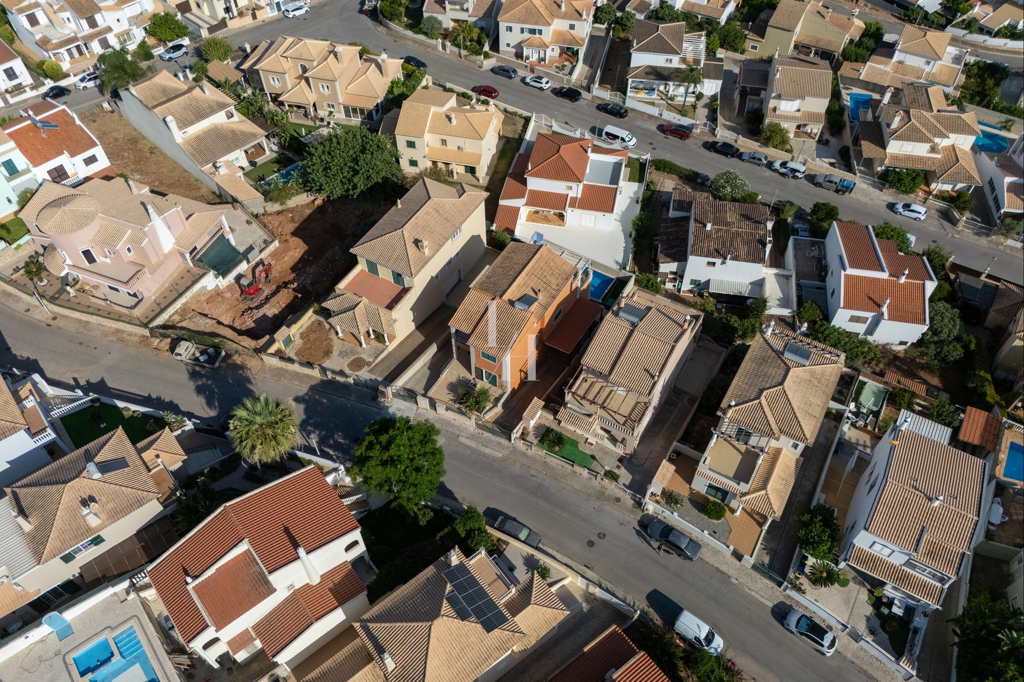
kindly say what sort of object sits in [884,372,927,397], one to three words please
shed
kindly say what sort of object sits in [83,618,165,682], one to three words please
swimming pool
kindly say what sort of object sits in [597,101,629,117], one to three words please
car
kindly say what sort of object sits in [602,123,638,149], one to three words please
vehicle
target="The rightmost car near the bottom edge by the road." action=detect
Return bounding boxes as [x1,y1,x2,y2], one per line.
[783,608,843,658]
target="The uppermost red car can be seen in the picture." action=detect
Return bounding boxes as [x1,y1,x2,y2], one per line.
[476,84,503,98]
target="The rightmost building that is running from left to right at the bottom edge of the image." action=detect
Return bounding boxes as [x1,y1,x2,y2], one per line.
[545,623,670,682]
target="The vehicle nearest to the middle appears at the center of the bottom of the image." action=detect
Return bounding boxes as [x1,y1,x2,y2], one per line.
[494,507,551,550]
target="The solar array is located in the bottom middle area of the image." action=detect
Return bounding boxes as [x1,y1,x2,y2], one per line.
[442,563,514,634]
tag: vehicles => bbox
[238,273,273,310]
[645,517,704,561]
[210,417,234,440]
[783,608,843,658]
[40,83,72,98]
[662,122,695,140]
[597,101,629,117]
[602,123,638,149]
[159,43,188,60]
[669,602,729,655]
[555,83,584,102]
[168,339,222,370]
[284,4,310,17]
[772,158,808,178]
[476,84,503,98]
[404,52,430,69]
[813,172,857,194]
[524,74,552,90]
[73,71,102,90]
[706,139,742,157]
[494,507,551,550]
[493,64,519,78]
[893,201,931,220]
